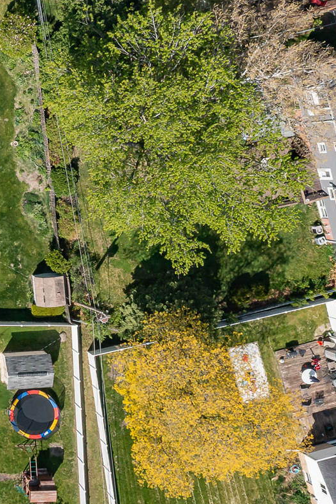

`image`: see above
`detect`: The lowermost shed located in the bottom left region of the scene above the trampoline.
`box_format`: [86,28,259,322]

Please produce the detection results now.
[2,352,54,391]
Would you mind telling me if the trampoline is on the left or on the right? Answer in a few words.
left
